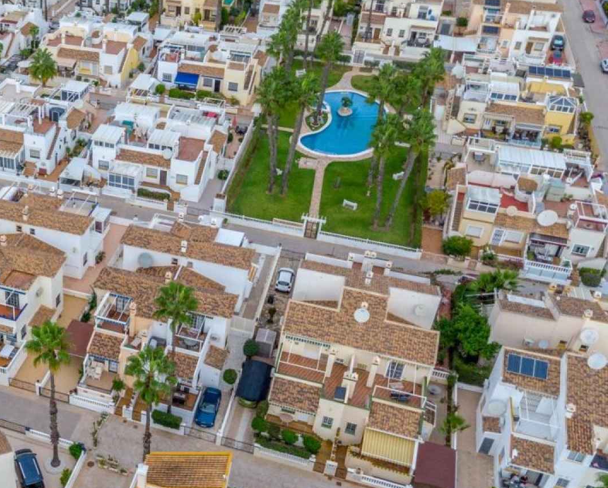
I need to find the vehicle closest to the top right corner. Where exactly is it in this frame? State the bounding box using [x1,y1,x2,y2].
[583,6,597,19]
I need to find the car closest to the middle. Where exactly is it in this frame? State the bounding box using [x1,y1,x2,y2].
[276,264,296,292]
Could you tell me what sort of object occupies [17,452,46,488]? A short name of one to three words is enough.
car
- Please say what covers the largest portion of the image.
buildings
